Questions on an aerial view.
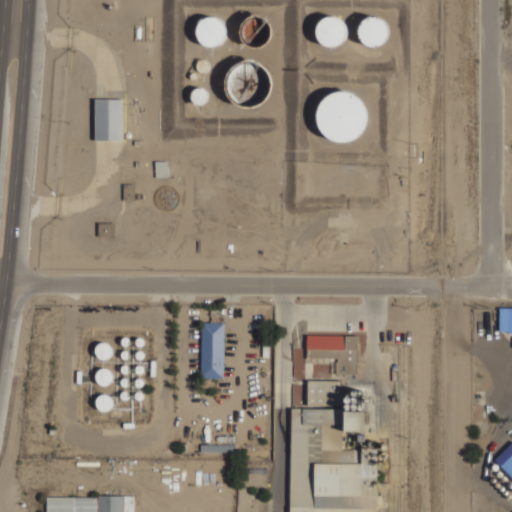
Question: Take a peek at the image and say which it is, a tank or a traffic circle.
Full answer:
There is a tank in the scene.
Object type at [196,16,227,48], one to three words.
storage tank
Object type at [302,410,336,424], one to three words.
shed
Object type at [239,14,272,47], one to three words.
storage tank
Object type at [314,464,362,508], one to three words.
building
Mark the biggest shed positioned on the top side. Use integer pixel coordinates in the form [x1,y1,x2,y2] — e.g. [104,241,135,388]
[94,98,124,141]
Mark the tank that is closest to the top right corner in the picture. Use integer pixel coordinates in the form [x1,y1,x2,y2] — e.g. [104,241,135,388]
[358,16,390,49]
